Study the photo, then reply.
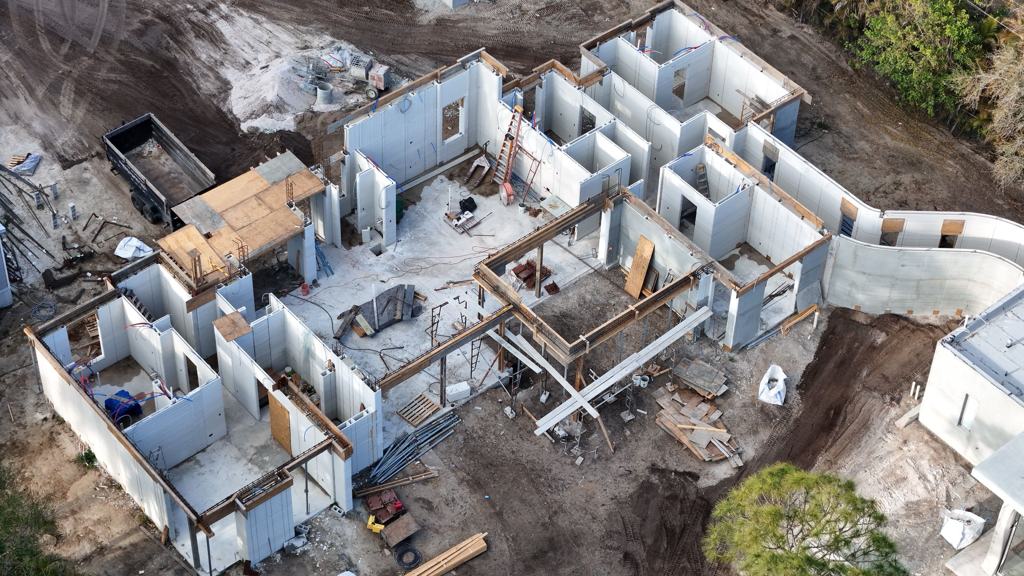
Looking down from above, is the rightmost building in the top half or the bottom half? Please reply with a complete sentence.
Seen from above, the rightmost building lies in the bottom half of the view.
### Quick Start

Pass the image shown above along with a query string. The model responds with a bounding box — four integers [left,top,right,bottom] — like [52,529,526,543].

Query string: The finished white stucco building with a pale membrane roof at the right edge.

[918,283,1024,467]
